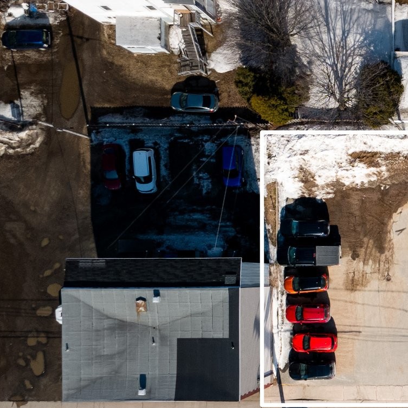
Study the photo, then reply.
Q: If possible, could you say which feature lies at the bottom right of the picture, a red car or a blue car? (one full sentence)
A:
Looking at the bottom right of the picture, you will find a red car.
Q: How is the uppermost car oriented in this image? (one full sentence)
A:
The uppermost car has been laid out from side to side relative to the frame.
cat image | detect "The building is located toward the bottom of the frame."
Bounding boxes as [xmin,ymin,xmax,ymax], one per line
[62,258,274,402]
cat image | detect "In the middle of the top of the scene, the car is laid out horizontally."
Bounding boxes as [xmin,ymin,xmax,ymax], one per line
[173,89,219,113]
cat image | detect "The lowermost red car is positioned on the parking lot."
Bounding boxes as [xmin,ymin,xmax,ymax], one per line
[292,331,338,354]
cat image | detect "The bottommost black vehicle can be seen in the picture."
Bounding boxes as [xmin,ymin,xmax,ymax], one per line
[290,359,338,383]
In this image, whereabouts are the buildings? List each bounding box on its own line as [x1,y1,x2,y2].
[65,0,234,52]
[62,258,274,402]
